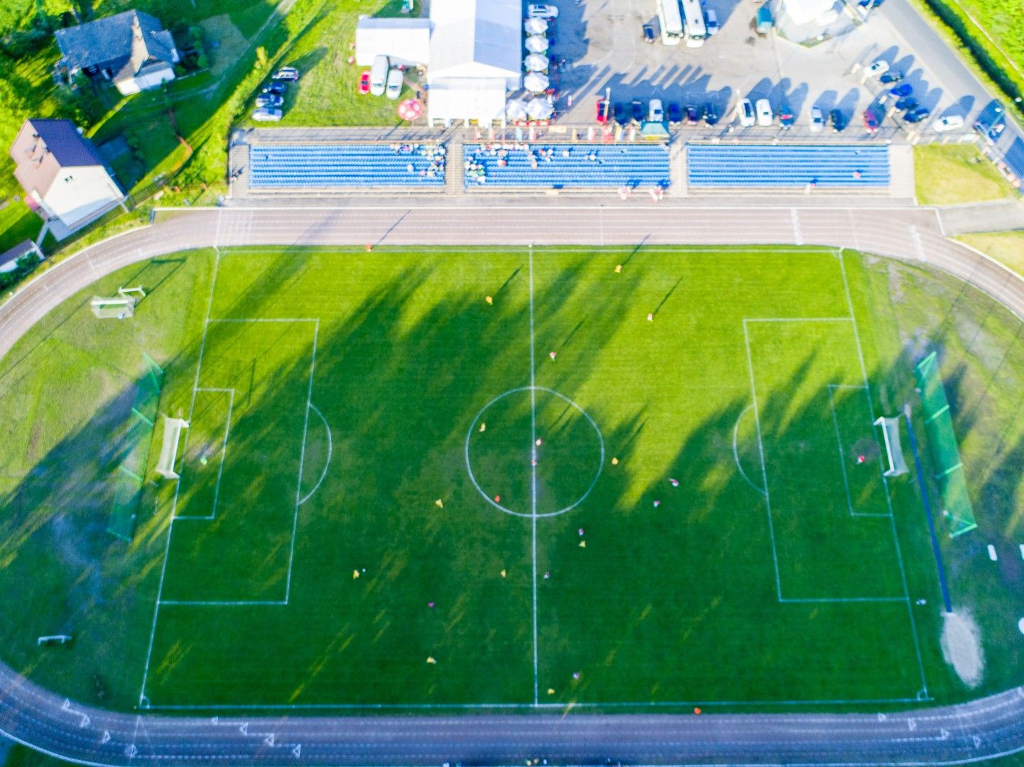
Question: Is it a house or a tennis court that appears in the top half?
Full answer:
Looking in the top half, you will find a house.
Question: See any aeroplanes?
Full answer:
No, the frame has no aeroplane in it.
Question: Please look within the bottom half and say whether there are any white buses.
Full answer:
No, there's no white bus to be seen within the bottom half.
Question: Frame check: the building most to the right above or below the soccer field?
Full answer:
The building most to the right is found above the soccer field in the photo.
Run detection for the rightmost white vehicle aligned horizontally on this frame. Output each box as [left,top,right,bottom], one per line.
[932,114,964,131]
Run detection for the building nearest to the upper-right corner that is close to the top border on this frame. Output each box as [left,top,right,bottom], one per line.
[773,0,864,49]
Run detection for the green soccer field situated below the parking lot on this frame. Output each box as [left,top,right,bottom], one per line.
[116,244,957,712]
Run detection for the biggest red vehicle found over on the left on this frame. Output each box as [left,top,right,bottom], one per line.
[358,73,371,95]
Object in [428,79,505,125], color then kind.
white tent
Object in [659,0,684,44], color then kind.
white bus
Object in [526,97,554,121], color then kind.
white umbrella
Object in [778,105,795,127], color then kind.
blue car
